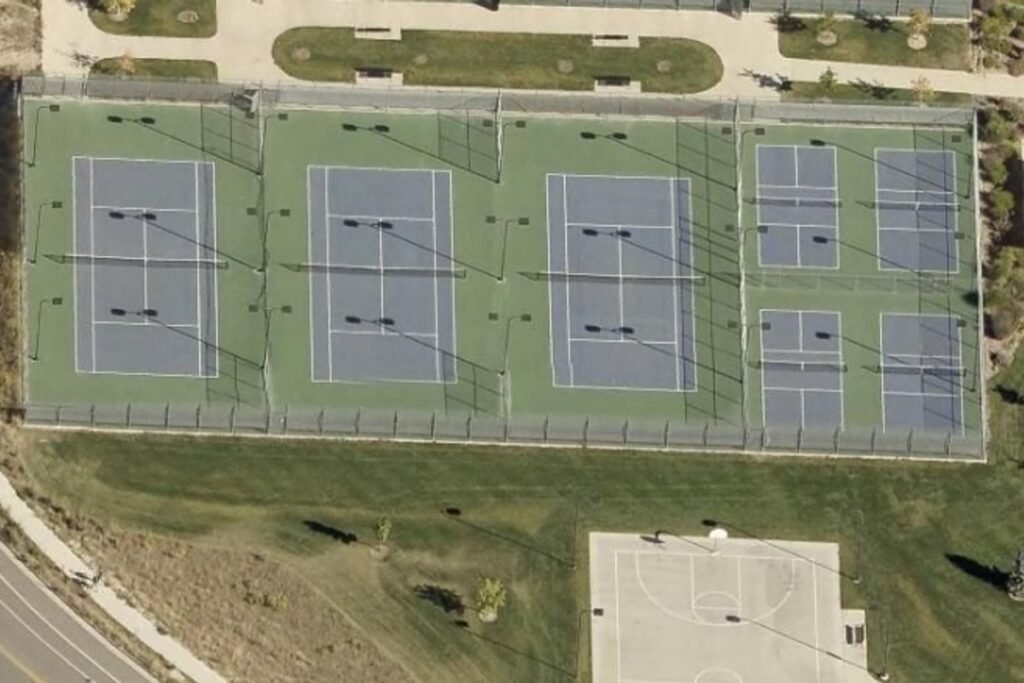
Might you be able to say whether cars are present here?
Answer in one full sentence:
No, no car is visible in the scene.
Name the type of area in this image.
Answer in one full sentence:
The picture captures a sports ground.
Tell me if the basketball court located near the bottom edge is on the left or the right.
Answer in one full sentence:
The basketball court located near the bottom edge is on the right side of the image.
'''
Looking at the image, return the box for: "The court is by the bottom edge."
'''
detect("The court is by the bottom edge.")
[590,533,880,683]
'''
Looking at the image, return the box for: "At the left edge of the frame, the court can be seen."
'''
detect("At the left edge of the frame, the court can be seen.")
[24,99,267,435]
